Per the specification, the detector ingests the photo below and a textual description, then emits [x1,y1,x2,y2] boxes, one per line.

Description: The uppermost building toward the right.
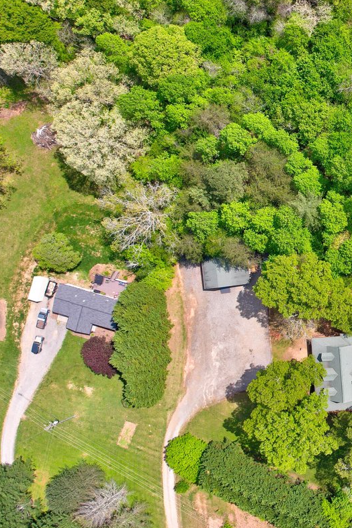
[201,255,251,289]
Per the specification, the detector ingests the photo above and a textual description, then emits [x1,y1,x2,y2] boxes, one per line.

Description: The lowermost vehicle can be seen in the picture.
[32,335,45,354]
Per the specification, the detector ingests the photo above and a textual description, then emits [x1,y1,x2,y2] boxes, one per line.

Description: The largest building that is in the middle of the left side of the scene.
[53,282,125,335]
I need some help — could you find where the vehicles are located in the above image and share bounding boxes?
[32,335,45,354]
[37,307,50,330]
[45,280,59,298]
